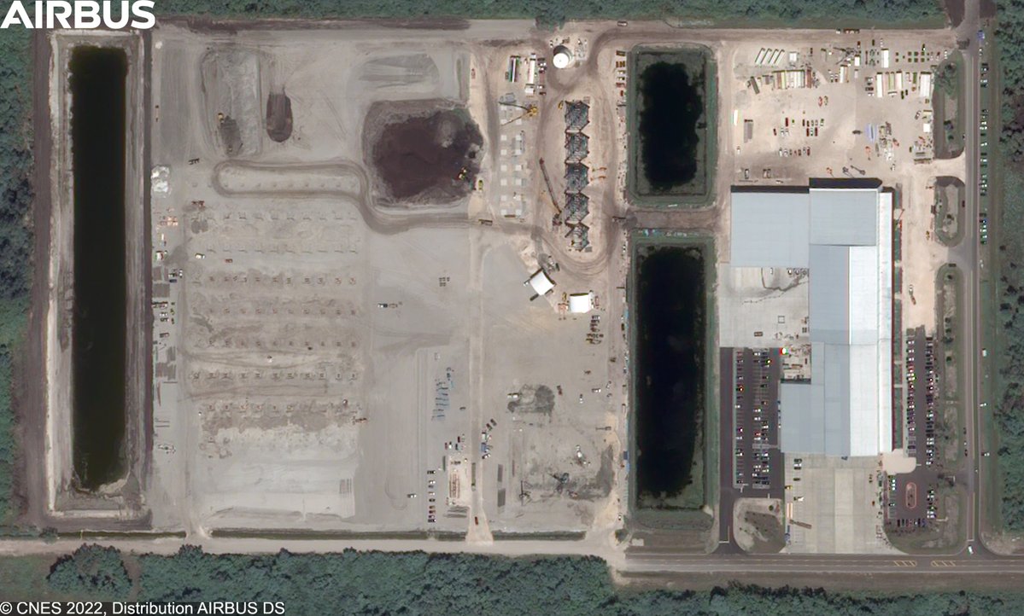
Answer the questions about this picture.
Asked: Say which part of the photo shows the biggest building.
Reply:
right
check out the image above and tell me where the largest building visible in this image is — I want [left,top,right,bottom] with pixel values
[733,181,898,456]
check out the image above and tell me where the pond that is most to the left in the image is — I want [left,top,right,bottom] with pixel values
[72,46,128,486]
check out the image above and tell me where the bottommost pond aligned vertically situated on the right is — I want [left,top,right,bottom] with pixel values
[636,244,705,500]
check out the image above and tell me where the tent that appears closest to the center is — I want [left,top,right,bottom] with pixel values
[530,268,558,295]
